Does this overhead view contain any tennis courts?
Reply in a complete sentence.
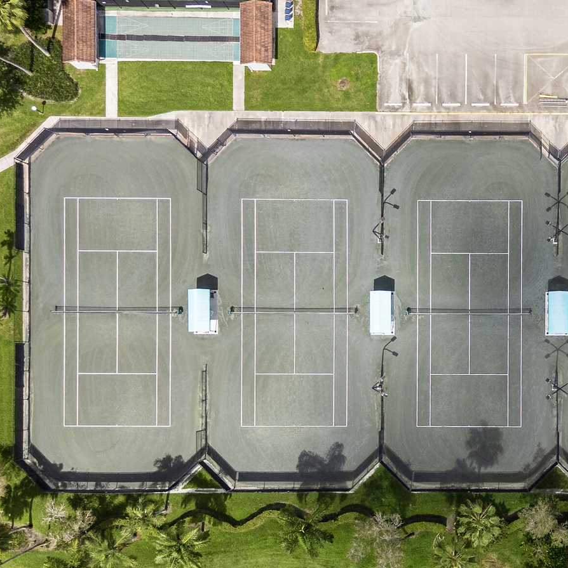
Yes, you can see a tennis court in this photo.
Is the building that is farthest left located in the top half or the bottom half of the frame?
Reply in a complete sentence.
It is in the top half that the building that is farthest left appears.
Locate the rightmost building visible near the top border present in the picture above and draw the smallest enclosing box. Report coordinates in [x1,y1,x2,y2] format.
[239,0,276,69]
